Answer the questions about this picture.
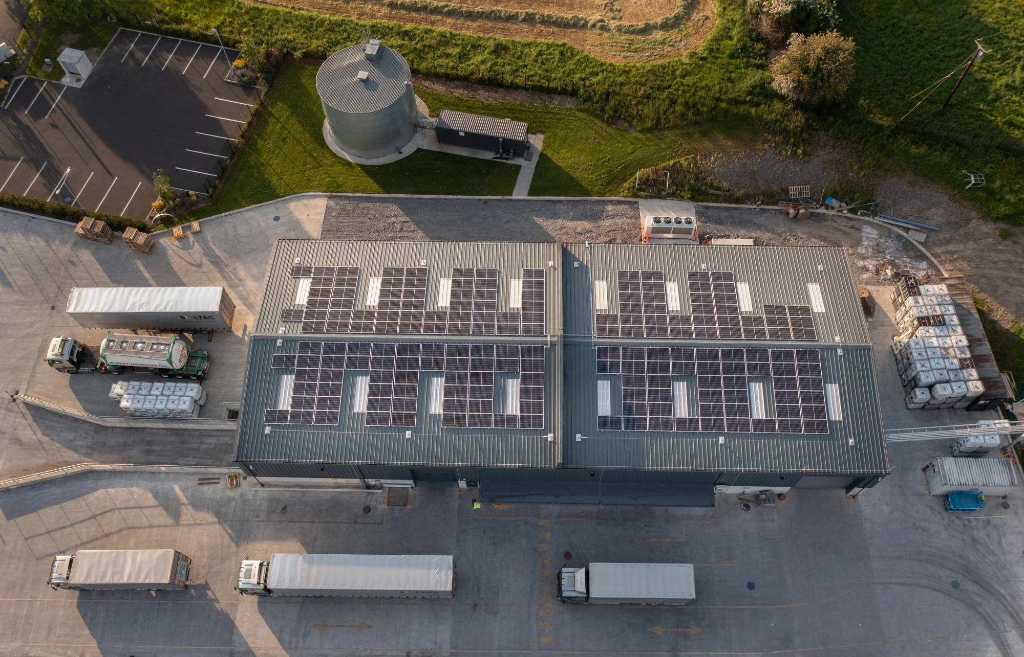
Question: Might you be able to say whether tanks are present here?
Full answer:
Yes, the image includes a tank.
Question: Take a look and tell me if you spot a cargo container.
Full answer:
Yes, the frame does contain a cargo container.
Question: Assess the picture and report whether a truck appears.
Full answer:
Yes, a truck appears in the view.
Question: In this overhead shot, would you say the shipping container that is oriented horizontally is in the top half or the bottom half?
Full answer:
Seen from above, the shipping container that is oriented horizontally lies in the bottom half of the view.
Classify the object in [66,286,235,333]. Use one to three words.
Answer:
trailer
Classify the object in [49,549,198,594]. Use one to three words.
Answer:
truck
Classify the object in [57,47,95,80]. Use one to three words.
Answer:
shed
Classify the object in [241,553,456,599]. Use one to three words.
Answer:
truck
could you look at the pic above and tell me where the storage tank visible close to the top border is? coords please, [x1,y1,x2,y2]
[316,28,437,161]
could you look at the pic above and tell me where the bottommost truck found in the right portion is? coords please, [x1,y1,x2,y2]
[555,562,696,606]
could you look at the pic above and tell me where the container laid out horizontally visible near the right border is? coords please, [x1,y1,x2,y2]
[918,458,1019,495]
